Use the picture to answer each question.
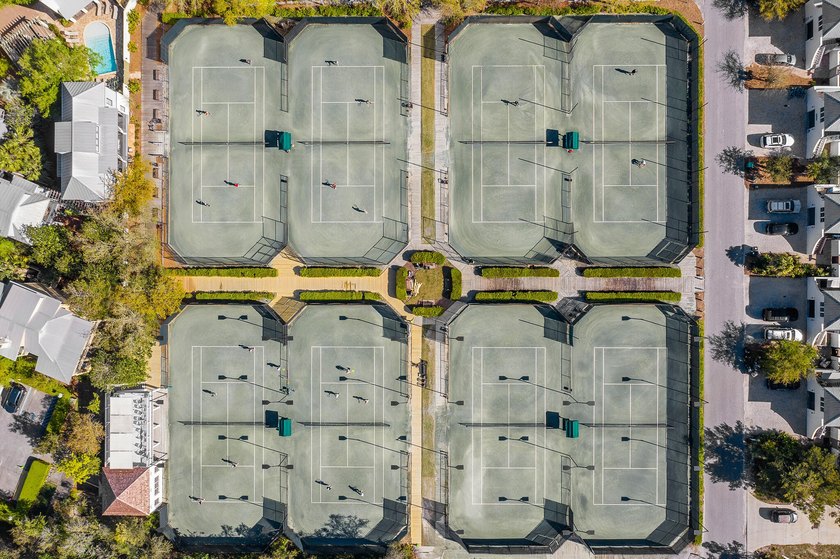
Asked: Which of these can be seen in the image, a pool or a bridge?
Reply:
pool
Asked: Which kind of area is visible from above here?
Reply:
sports ground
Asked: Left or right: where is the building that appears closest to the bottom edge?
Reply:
left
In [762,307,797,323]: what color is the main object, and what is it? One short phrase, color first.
black car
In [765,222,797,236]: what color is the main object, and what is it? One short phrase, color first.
black car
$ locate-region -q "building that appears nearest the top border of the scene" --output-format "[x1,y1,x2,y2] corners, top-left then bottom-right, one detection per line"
[43,0,97,29]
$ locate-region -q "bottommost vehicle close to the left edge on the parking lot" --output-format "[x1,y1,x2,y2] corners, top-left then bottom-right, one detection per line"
[3,382,26,414]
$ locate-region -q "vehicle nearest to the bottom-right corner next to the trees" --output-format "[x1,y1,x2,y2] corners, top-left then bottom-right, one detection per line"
[770,508,797,524]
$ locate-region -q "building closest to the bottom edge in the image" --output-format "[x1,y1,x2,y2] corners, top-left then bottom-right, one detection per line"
[101,459,162,516]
